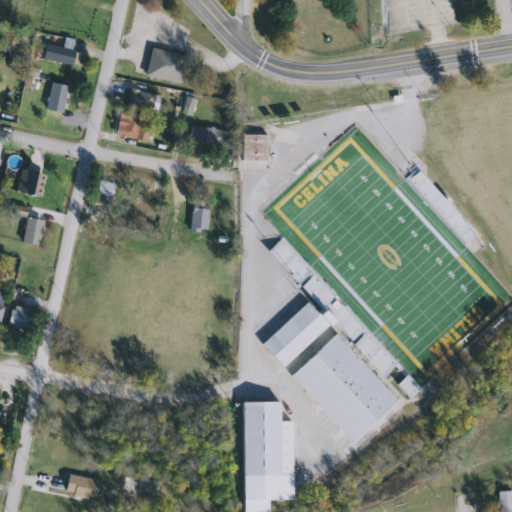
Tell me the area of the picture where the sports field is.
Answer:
right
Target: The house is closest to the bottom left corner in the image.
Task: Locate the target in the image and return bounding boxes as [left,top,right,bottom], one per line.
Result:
[66,474,98,500]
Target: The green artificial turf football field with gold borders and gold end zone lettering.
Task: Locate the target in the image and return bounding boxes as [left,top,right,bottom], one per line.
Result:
[260,124,512,384]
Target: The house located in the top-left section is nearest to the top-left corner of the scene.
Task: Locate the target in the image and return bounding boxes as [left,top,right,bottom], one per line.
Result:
[45,37,76,65]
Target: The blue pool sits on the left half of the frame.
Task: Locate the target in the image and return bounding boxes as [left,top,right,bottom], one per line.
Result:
[6,154,22,174]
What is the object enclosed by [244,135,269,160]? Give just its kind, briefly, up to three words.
building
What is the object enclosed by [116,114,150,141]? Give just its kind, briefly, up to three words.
house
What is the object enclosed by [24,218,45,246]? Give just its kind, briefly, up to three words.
house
